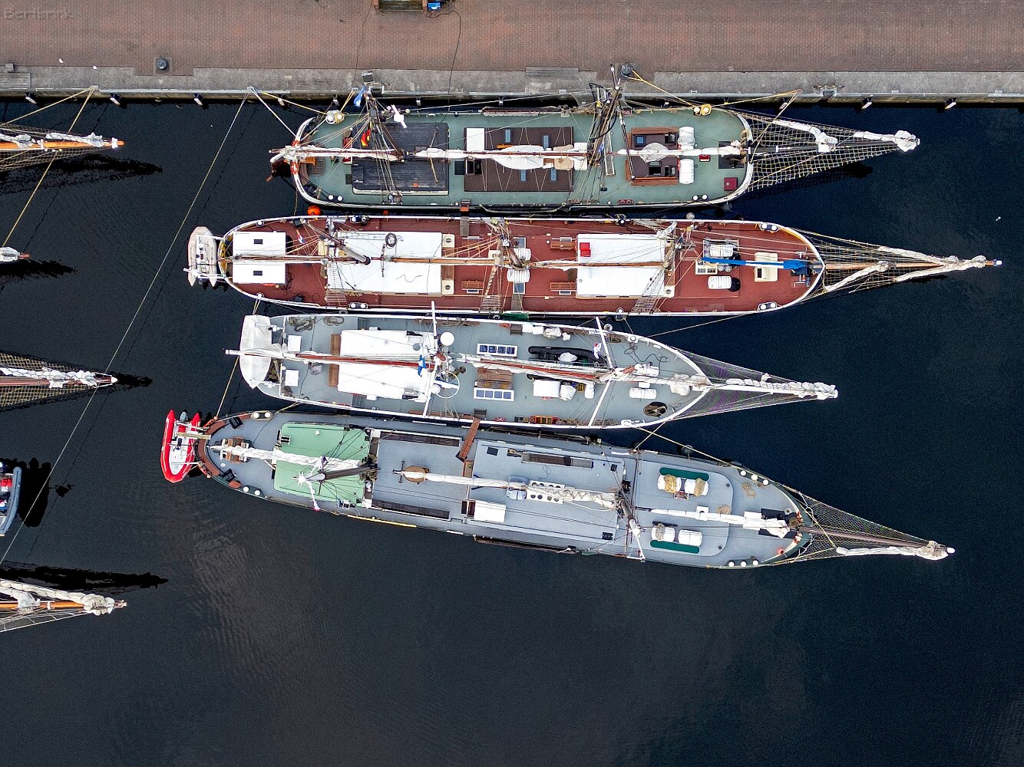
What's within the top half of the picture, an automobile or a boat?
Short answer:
boat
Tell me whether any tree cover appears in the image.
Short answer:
No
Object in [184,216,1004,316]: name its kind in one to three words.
ship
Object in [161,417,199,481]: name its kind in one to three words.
boat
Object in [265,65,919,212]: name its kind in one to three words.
ship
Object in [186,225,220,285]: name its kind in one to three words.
boat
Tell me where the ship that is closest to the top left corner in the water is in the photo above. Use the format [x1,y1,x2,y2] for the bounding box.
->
[0,125,127,170]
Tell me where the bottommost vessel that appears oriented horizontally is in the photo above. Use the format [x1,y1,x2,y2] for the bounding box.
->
[0,580,128,633]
